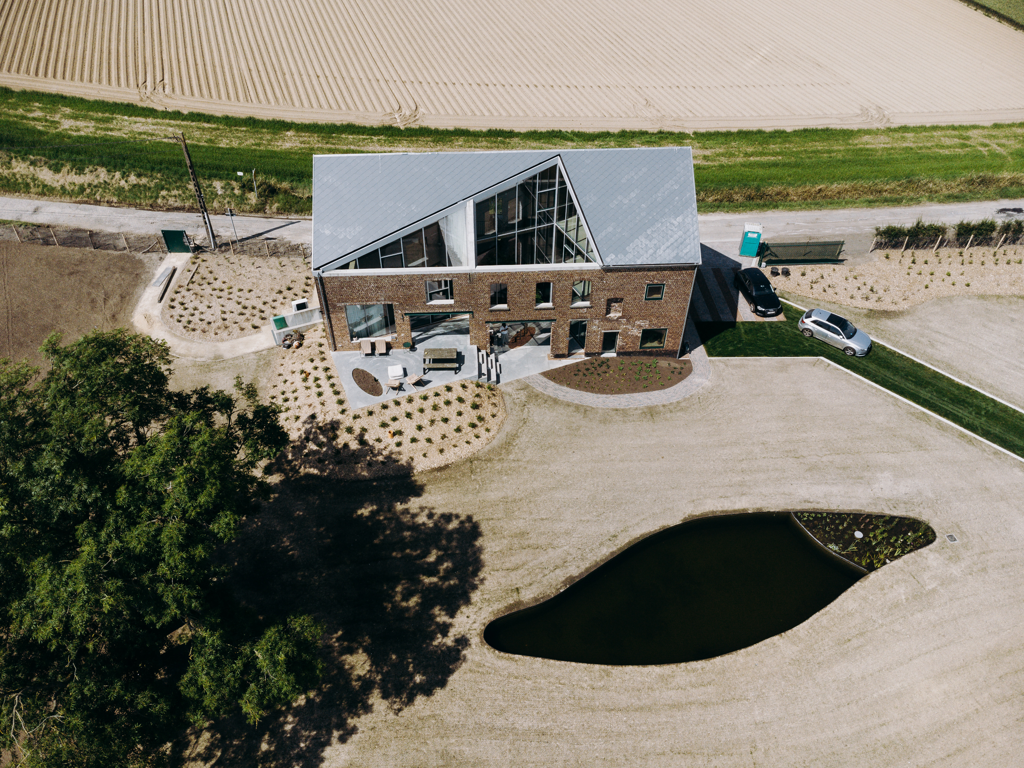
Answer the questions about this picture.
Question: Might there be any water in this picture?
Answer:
Yes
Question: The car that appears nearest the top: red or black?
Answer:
black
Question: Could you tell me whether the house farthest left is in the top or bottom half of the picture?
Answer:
top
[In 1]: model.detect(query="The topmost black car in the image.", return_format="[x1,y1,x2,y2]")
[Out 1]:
[739,265,784,315]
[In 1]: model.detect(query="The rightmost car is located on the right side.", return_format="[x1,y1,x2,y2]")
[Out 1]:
[798,305,876,358]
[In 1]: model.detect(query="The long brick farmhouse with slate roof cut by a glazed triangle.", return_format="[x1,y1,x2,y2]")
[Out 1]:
[312,144,703,357]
